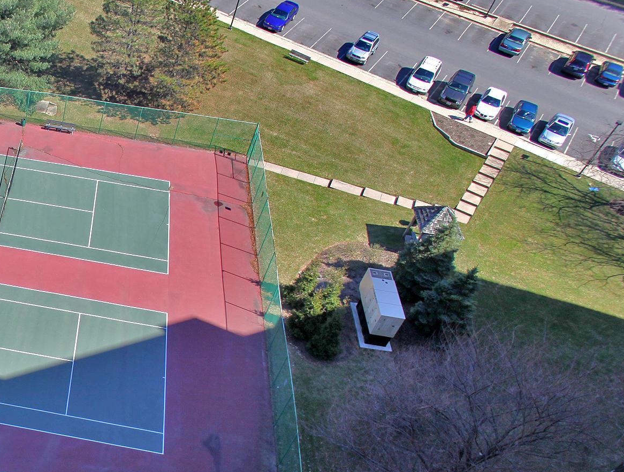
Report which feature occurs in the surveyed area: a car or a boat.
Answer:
car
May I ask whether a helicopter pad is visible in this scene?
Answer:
No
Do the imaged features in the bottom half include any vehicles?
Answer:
No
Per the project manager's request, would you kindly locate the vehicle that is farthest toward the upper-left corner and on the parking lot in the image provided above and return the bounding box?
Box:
[265,4,298,29]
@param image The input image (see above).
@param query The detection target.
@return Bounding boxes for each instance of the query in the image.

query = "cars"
[476,86,508,118]
[559,54,591,78]
[496,28,528,52]
[538,110,574,145]
[265,4,298,29]
[506,100,538,132]
[591,63,623,87]
[409,54,446,93]
[440,68,478,107]
[348,32,383,65]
